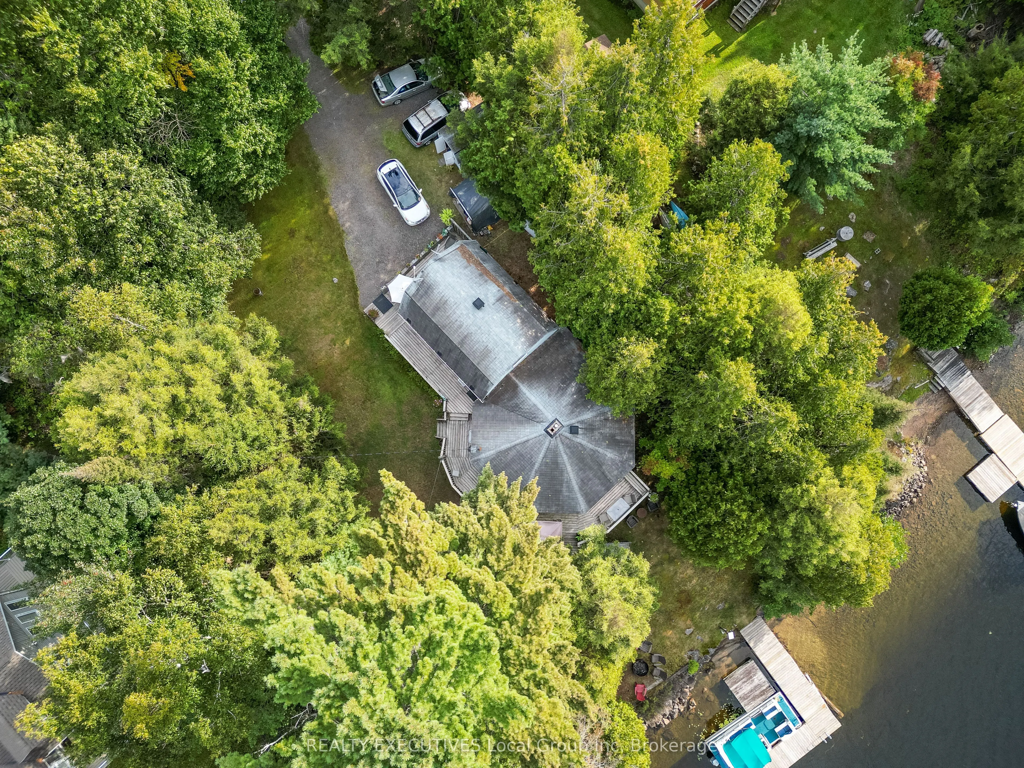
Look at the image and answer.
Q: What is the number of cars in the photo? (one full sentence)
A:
There are 3 cars in the image.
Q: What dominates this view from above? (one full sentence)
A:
Most of the picture is covered by trees.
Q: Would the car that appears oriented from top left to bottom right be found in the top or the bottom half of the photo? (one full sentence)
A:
It is in the top half that the car that appears oriented from top left to bottom right appears.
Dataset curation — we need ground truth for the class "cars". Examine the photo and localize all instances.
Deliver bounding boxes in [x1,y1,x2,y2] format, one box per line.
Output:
[404,91,463,147]
[375,156,432,229]
[374,53,444,105]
